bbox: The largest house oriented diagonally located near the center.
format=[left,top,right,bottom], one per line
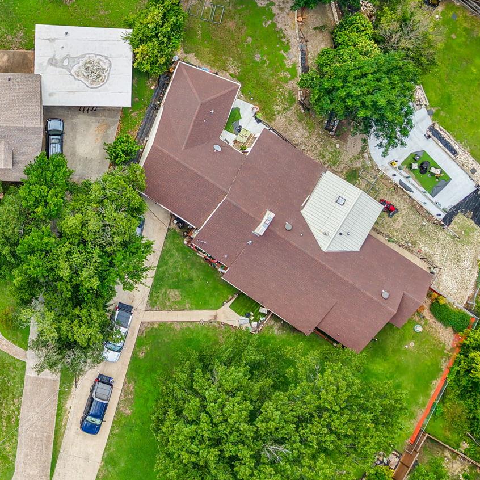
[138,61,433,354]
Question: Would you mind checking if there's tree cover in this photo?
Yes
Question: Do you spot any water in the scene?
No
